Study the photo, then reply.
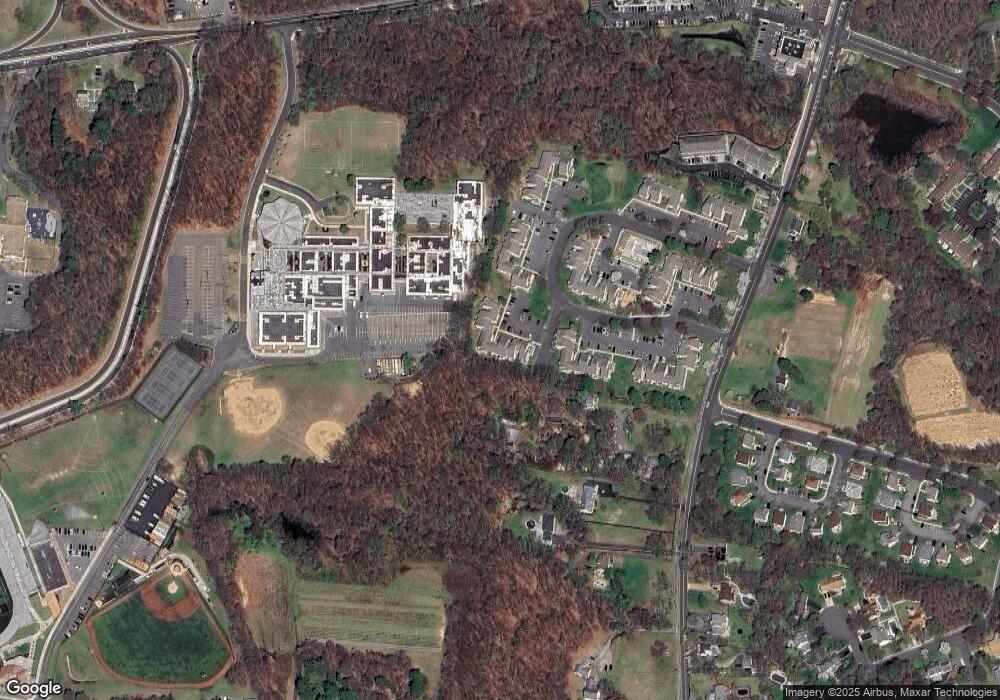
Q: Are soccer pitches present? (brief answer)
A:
Yes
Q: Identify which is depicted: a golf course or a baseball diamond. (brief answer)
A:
baseball diamond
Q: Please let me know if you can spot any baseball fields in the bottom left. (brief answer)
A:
Yes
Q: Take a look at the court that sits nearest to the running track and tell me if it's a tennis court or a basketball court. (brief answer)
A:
tennis court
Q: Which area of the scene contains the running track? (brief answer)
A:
bottom left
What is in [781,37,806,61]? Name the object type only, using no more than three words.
building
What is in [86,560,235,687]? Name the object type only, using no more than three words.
baseball field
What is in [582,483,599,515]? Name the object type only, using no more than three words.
house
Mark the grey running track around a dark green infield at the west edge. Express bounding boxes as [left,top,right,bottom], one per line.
[0,488,40,645]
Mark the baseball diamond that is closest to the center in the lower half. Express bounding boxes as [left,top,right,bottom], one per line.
[306,421,345,462]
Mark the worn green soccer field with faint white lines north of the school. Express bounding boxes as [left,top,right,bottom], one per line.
[303,119,400,170]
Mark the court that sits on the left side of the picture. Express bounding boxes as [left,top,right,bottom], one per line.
[133,341,204,420]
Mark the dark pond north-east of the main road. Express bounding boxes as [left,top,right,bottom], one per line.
[848,93,942,163]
